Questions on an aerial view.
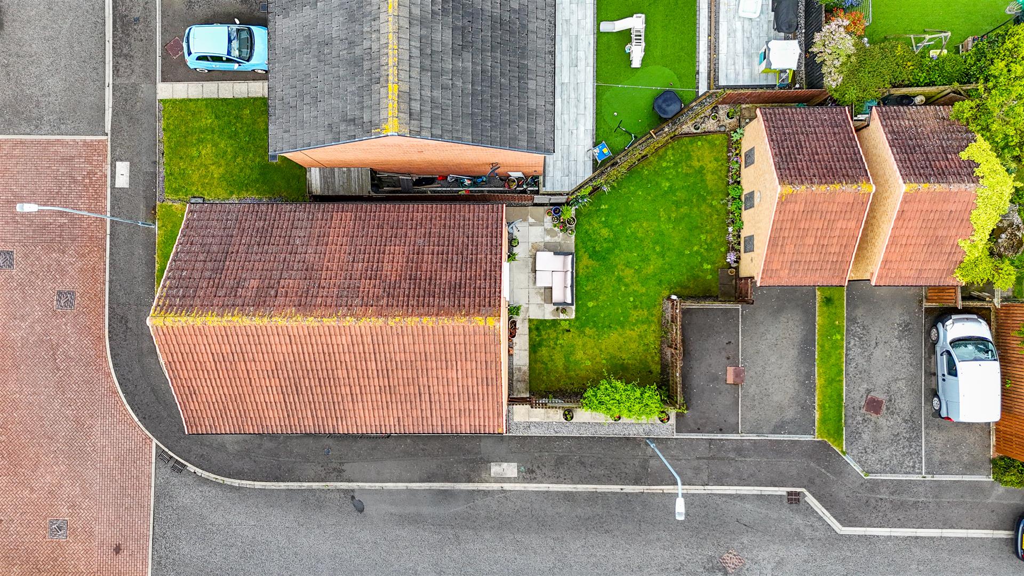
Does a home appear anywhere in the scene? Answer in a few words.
Yes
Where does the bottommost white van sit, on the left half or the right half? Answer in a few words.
right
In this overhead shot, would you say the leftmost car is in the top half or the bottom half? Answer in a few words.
top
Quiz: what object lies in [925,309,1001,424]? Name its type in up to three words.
van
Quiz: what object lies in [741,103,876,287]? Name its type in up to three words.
building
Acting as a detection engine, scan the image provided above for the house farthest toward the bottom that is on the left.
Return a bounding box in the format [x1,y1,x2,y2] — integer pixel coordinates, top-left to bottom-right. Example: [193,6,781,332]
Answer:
[146,196,510,436]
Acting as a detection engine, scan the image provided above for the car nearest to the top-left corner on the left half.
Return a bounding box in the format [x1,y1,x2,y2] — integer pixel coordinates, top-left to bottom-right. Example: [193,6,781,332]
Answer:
[180,19,266,78]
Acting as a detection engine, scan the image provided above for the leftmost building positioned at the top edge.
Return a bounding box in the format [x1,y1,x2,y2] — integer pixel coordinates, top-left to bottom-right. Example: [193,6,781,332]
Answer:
[266,0,558,175]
